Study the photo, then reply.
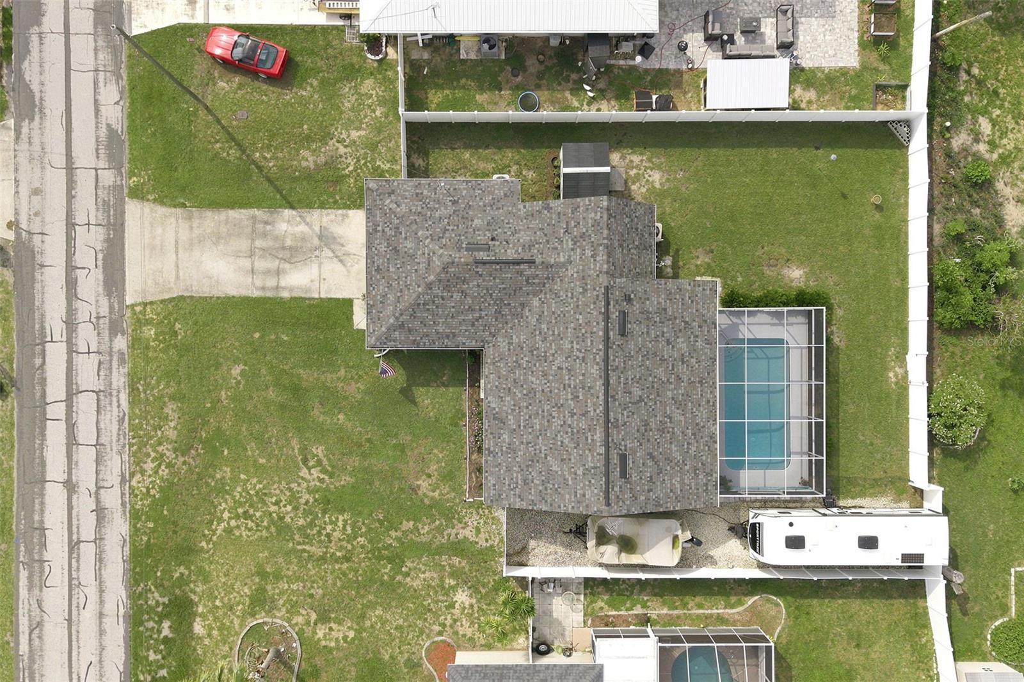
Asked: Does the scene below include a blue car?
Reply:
No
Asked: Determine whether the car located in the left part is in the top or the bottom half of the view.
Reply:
top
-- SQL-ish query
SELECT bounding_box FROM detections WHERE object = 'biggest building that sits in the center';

[363,177,721,515]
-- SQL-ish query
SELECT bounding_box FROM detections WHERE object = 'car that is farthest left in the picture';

[206,27,288,78]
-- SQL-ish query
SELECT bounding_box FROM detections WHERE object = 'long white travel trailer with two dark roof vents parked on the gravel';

[727,503,945,565]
